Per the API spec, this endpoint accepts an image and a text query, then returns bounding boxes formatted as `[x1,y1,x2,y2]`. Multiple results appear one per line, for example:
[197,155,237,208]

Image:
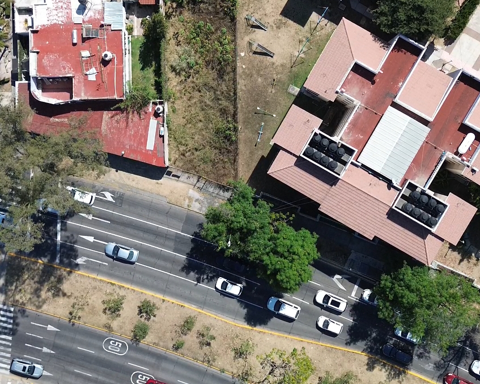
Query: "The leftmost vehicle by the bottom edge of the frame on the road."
[10,357,45,379]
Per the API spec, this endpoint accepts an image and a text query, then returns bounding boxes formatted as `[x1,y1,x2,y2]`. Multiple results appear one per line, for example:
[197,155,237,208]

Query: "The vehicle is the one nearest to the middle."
[213,276,244,297]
